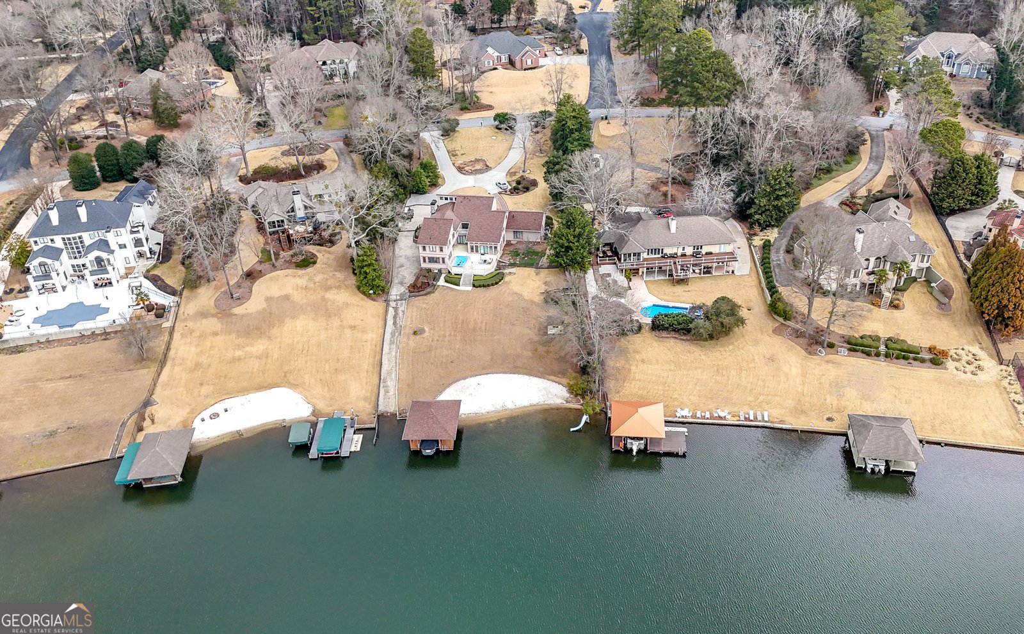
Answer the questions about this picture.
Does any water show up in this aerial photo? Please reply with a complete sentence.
Yes, the picture does contain water.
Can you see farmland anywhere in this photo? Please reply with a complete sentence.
No, the picture contains no farmland.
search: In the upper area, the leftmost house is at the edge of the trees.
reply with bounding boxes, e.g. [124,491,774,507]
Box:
[19,176,167,295]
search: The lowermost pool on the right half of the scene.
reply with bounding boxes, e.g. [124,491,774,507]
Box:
[638,302,695,319]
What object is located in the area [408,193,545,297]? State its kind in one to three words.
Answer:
house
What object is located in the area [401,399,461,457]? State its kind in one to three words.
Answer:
building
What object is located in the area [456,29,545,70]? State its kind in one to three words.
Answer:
house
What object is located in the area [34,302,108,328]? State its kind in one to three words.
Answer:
swimming pool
